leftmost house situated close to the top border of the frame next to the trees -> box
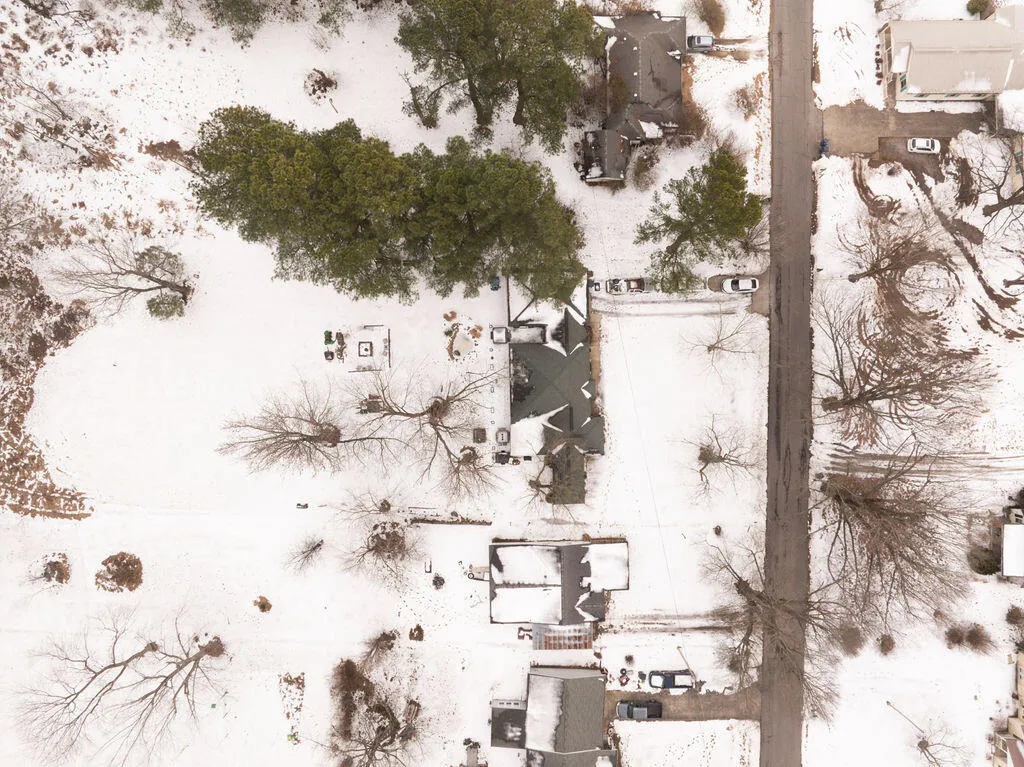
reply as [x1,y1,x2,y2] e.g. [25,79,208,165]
[584,10,687,184]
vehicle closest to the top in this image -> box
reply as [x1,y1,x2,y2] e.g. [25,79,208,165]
[687,32,716,50]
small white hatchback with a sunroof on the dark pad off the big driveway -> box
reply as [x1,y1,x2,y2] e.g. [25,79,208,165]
[909,136,943,152]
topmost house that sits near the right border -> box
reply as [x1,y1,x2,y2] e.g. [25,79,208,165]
[881,0,1024,106]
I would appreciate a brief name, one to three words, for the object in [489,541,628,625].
house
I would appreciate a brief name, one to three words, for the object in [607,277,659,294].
vehicle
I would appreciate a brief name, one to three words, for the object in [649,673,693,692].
vehicle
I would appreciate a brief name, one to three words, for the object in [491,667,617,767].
house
